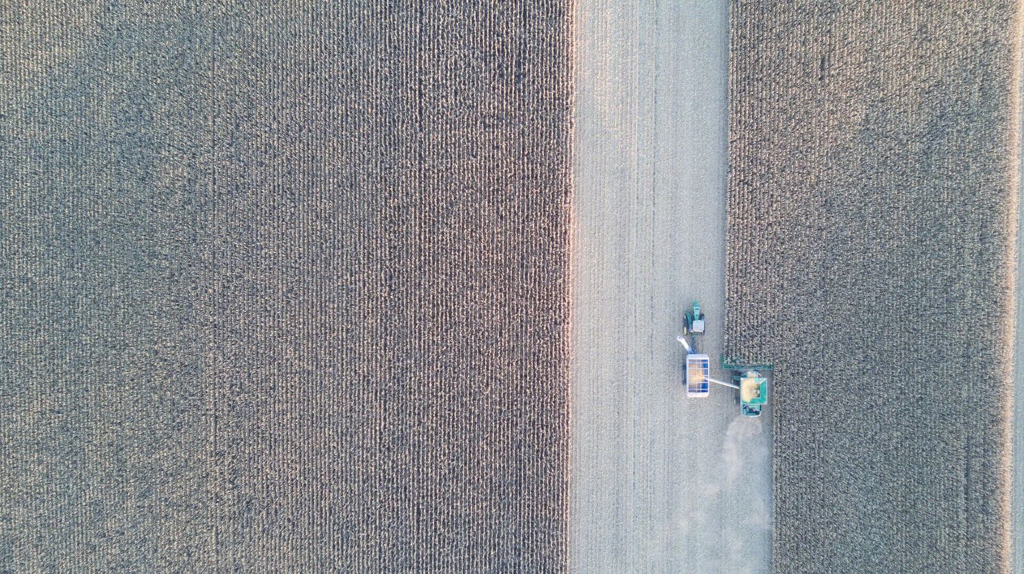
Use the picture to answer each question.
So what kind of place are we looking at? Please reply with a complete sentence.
This image shows farmland.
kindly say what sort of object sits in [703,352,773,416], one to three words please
work vehicle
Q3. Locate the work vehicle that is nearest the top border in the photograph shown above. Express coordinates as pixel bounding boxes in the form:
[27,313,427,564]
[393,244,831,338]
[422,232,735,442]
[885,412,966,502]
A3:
[683,300,705,337]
